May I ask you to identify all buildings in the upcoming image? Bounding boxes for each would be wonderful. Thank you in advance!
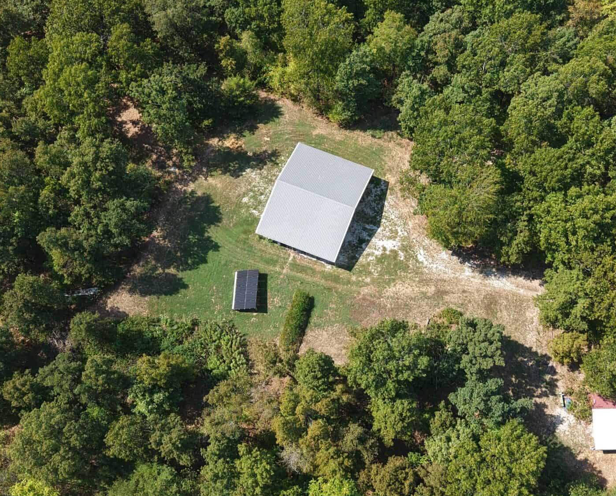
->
[587,390,616,453]
[255,142,376,267]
